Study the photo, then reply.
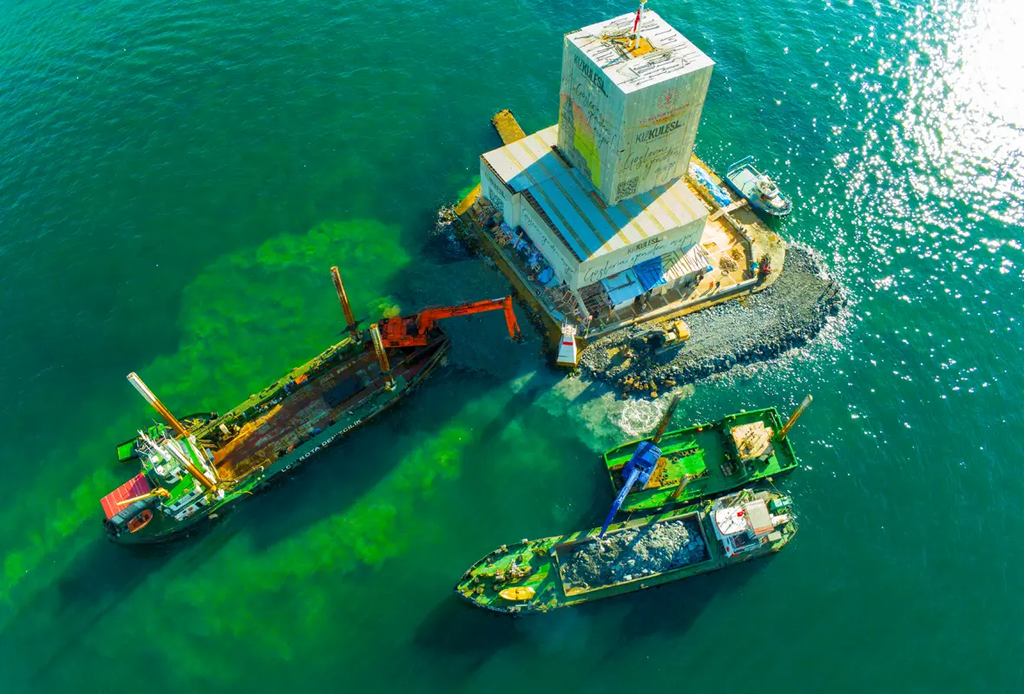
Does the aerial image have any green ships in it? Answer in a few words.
Yes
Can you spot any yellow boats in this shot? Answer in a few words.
Yes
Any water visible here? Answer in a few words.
Yes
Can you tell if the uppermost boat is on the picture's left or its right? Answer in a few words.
right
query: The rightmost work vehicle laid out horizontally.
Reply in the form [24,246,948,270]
[621,314,689,351]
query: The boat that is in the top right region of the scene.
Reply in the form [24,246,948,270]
[724,156,795,220]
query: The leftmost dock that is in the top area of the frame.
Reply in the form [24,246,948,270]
[494,111,530,144]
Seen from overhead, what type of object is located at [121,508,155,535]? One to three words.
boat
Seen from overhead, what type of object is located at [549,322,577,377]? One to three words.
lighthouse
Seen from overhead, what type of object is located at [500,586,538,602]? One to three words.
boat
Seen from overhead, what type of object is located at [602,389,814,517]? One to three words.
ship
